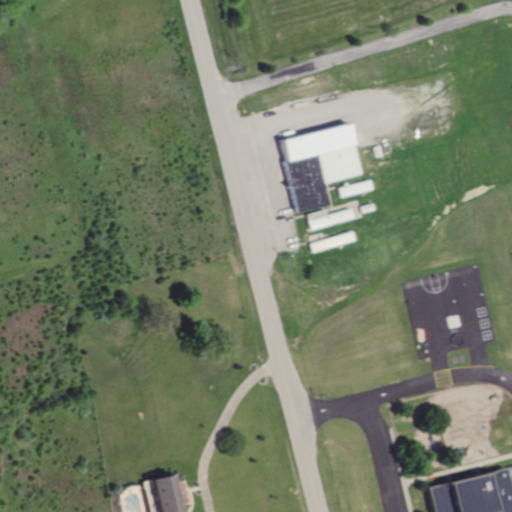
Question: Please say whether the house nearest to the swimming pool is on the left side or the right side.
left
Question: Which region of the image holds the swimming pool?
bottom left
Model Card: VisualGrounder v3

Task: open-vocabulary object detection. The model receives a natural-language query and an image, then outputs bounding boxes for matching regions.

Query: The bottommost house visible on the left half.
[155,475,185,512]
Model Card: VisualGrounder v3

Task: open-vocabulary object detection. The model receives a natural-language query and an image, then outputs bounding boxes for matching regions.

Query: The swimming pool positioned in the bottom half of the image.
[120,484,145,512]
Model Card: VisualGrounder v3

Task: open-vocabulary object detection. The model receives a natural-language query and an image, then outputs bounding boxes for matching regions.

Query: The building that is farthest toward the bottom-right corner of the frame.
[431,469,512,512]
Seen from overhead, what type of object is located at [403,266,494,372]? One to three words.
sports court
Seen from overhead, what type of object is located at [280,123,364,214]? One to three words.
building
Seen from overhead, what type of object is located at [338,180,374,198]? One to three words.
house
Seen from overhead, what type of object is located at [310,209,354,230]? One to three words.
house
